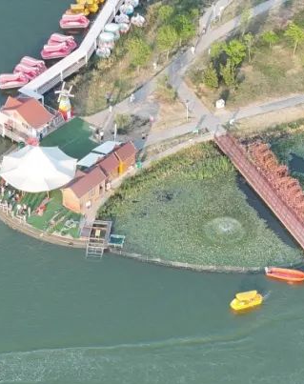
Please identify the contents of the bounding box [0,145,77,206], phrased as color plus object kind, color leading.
white tent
